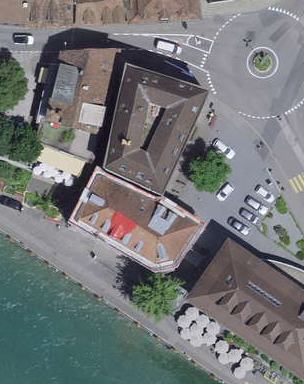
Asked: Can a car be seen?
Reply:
Yes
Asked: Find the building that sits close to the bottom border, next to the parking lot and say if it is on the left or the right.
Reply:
right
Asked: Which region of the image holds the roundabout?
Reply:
top right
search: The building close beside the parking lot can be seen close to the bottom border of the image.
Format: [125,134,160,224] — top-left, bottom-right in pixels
[188,238,304,381]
